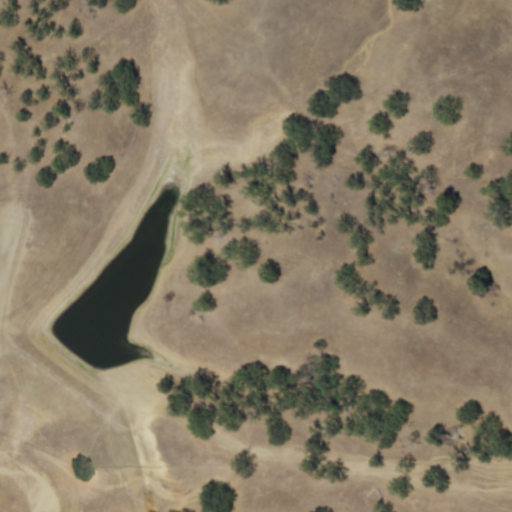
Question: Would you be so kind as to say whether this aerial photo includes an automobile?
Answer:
No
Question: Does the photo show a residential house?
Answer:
No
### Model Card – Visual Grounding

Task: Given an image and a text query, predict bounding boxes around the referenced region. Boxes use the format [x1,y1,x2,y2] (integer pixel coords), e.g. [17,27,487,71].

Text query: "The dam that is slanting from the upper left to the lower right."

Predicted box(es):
[30,326,116,400]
